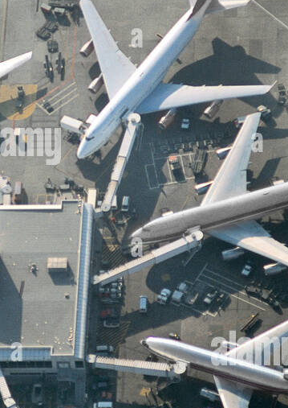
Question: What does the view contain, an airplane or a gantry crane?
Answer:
airplane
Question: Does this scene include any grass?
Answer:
No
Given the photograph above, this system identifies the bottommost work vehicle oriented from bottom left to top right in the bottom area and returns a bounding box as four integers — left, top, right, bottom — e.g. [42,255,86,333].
[241,313,260,333]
